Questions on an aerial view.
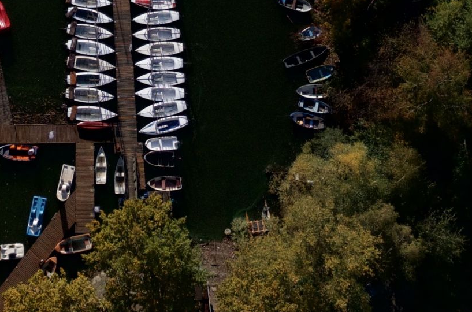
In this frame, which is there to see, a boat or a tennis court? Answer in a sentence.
This aerial view contains a boat.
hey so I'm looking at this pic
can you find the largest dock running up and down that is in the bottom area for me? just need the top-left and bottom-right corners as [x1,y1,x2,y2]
[75,143,95,233]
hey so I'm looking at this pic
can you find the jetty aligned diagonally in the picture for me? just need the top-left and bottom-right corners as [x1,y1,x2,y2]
[0,192,75,312]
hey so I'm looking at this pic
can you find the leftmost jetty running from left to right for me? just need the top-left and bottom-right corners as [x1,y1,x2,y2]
[0,123,78,144]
